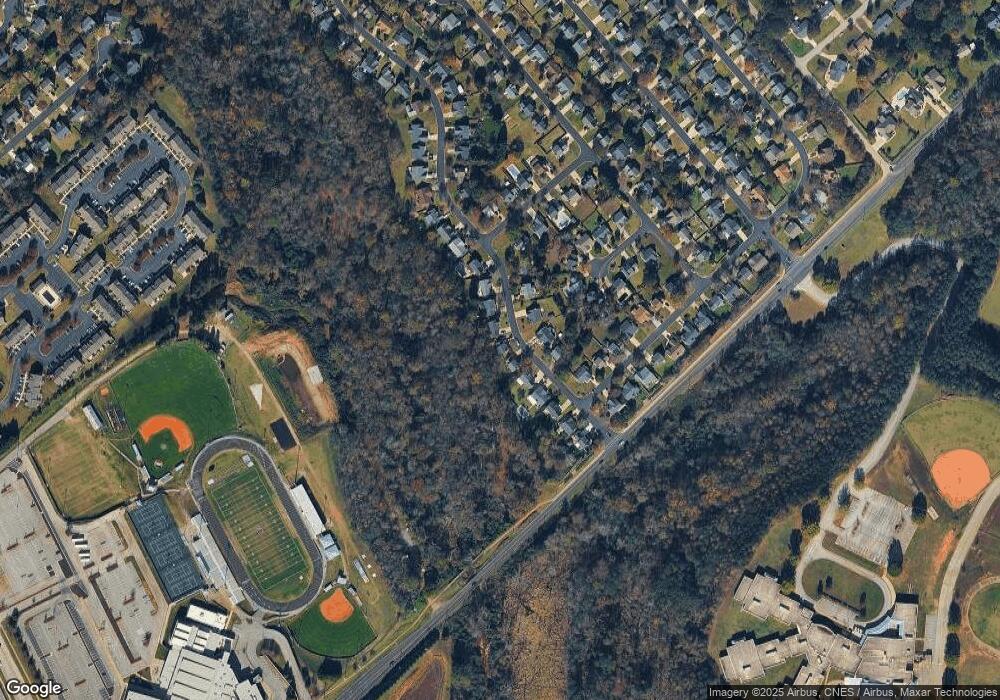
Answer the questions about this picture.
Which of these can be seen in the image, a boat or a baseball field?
baseball field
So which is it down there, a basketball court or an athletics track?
athletics track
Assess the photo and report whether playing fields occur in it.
Yes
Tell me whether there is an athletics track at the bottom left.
Yes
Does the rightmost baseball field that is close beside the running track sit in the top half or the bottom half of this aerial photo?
bottom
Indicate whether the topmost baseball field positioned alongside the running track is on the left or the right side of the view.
left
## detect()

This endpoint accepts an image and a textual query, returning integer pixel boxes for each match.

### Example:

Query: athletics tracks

[188,435,325,613]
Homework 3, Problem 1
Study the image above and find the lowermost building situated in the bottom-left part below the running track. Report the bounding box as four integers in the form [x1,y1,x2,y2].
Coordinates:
[125,605,263,700]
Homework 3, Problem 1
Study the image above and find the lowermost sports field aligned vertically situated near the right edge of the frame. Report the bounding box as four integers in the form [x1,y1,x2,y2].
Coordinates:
[969,577,1000,651]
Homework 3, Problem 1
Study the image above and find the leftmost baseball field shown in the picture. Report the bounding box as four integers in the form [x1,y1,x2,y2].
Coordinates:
[109,340,237,484]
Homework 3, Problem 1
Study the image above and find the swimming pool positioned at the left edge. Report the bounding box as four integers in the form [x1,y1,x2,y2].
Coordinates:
[34,284,61,308]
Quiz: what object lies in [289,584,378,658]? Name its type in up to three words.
baseball field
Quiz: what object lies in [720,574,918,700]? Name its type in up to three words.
building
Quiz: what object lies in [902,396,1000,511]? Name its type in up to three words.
baseball field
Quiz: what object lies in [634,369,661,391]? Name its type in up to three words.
house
